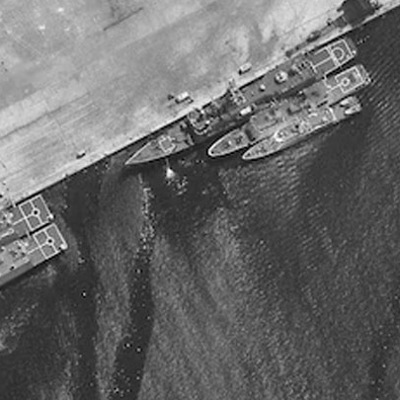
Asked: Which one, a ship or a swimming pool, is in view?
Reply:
ship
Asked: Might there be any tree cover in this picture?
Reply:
No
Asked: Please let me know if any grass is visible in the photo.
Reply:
No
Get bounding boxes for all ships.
[126,34,358,169]
[0,225,67,291]
[243,97,363,162]
[209,63,372,160]
[0,194,52,250]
